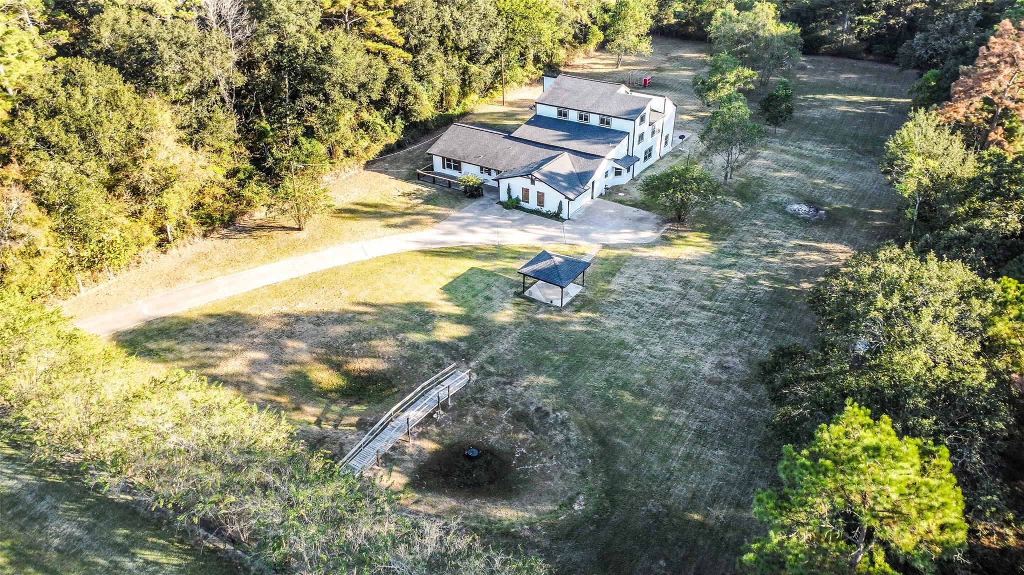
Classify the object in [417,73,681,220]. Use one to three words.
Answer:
house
